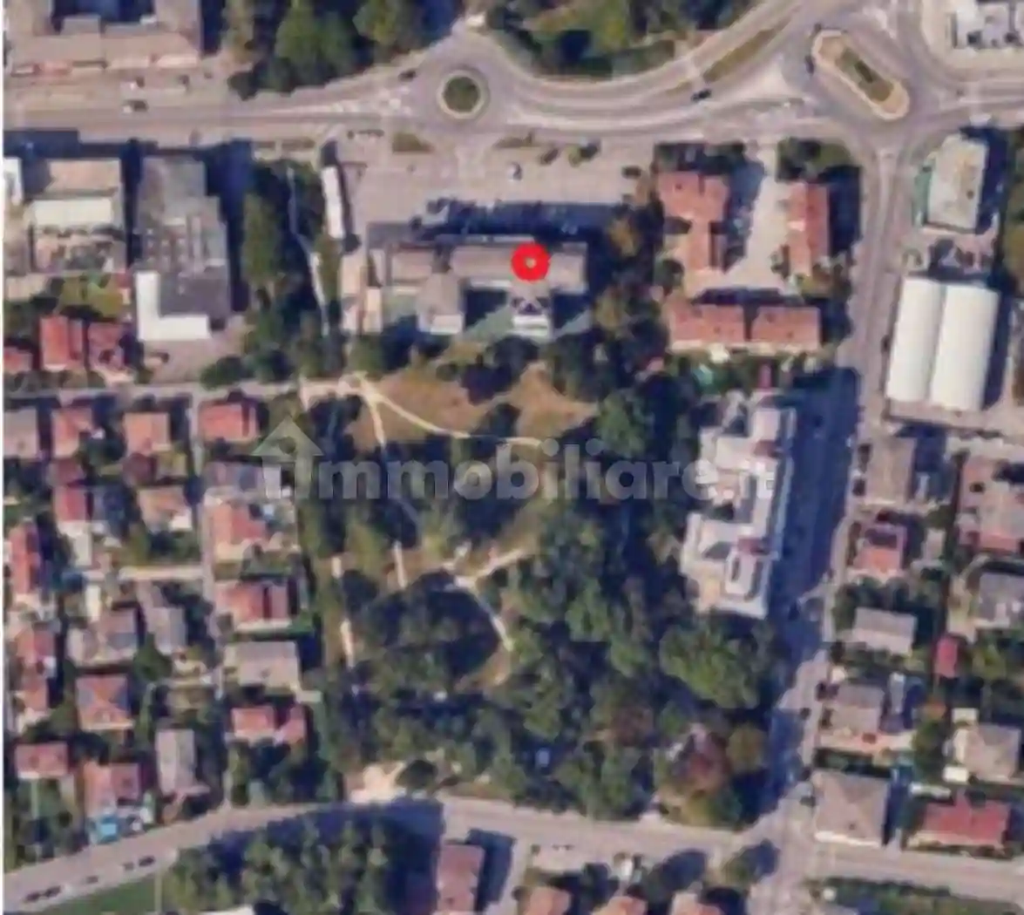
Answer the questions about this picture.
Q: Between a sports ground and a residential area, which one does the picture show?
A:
residential area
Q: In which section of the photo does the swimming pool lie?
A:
bottom left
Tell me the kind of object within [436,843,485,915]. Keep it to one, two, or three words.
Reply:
building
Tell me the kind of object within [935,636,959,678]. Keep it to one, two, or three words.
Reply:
shed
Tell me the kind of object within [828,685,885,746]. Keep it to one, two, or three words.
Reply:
house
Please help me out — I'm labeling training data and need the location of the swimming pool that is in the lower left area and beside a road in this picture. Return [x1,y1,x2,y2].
[93,816,119,840]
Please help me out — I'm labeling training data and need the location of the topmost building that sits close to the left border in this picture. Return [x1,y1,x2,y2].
[9,0,201,78]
